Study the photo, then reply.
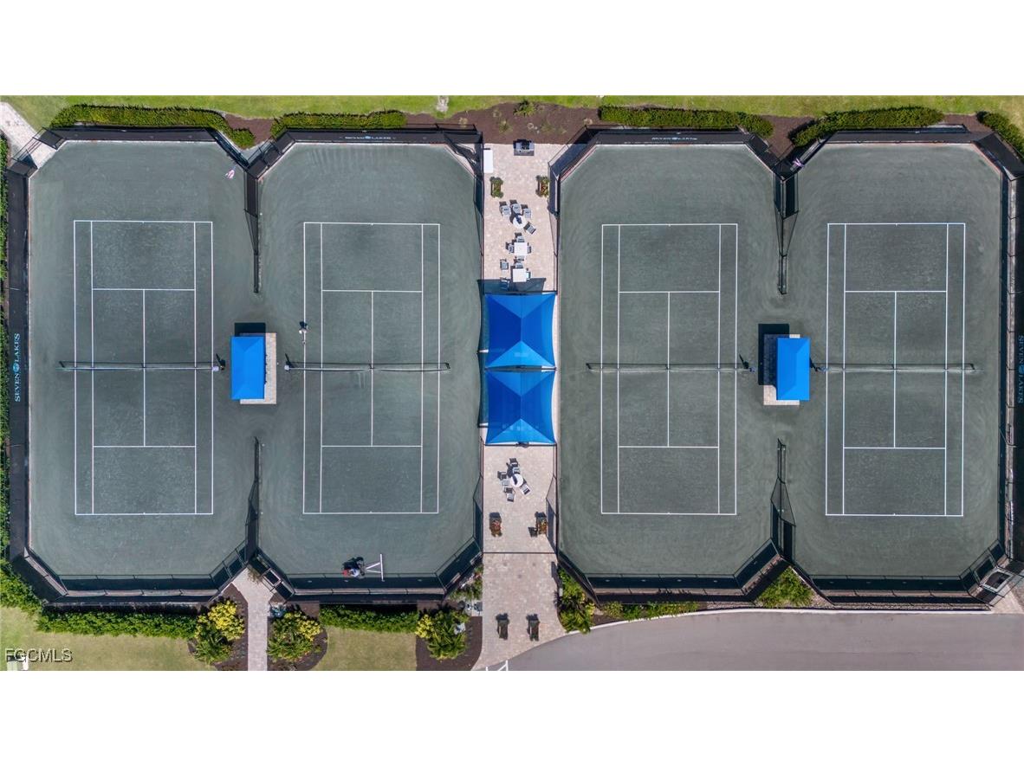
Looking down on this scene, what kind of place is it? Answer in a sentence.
This image shows a sports ground.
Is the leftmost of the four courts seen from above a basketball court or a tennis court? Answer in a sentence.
What you see as the leftmost of the four courts is a tennis court.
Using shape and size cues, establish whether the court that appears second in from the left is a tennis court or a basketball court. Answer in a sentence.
It turns out the court that appears second in from the left is a tennis court.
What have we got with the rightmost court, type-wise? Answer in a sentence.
From above, the rightmost court can be identified as a tennis court.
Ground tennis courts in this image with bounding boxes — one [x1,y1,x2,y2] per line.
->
[560,142,784,593]
[783,141,1002,593]
[257,142,483,592]
[26,140,257,593]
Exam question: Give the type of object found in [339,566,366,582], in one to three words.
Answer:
work vehicle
